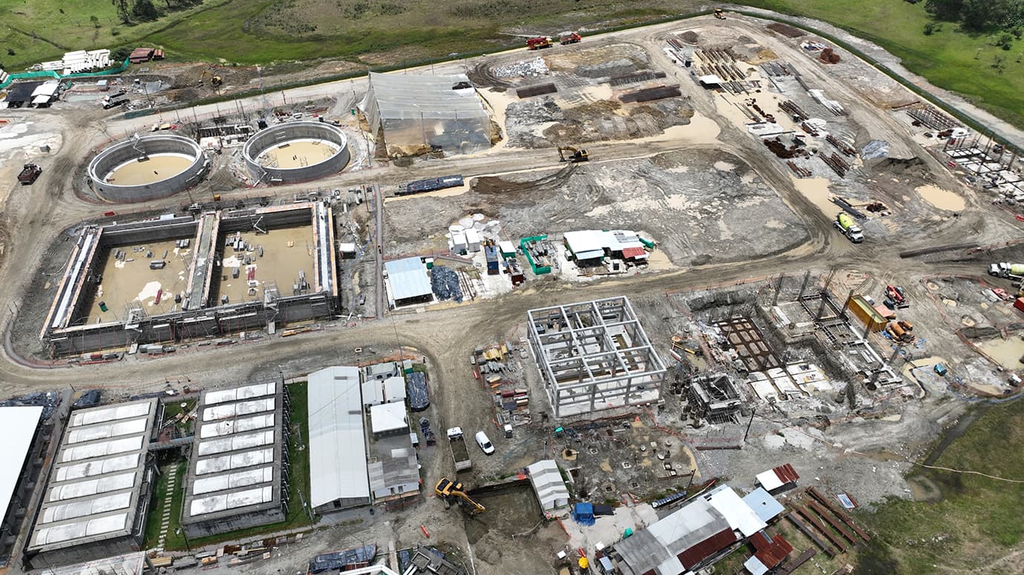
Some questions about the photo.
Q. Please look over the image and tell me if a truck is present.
Yes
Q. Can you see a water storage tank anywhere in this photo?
Yes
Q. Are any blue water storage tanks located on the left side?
No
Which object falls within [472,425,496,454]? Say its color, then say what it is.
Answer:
white vehicle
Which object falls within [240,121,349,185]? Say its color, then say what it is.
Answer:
gray water tank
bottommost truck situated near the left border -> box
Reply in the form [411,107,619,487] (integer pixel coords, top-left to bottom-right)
[10,158,45,181]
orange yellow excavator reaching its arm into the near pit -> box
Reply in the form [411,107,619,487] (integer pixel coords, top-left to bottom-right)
[431,474,485,515]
